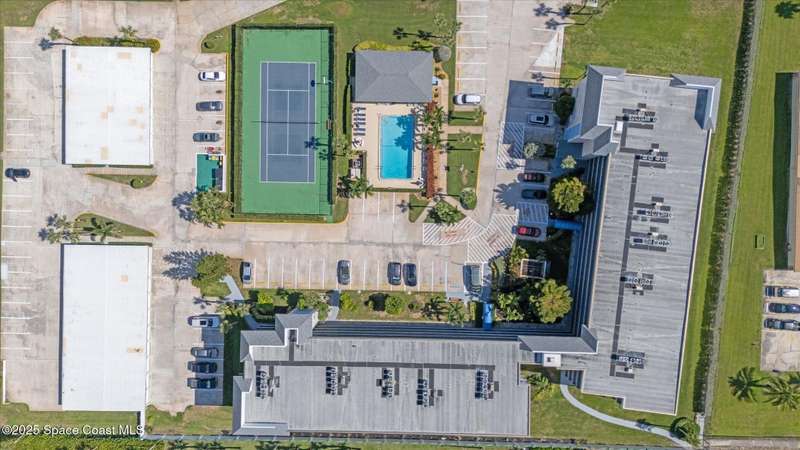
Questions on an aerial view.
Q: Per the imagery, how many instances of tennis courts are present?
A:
one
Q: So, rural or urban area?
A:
urban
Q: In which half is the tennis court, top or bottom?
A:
top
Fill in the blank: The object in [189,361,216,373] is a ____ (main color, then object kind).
black vehicle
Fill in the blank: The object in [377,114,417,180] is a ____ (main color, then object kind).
blue swimming pool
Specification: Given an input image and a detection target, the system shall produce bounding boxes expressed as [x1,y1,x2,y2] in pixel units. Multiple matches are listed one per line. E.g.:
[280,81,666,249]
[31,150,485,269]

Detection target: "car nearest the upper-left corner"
[5,167,31,182]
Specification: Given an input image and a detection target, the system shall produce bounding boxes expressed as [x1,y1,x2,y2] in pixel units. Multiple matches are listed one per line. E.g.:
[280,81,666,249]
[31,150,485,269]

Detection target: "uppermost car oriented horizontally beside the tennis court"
[198,70,226,82]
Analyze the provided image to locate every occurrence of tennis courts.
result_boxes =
[236,22,333,222]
